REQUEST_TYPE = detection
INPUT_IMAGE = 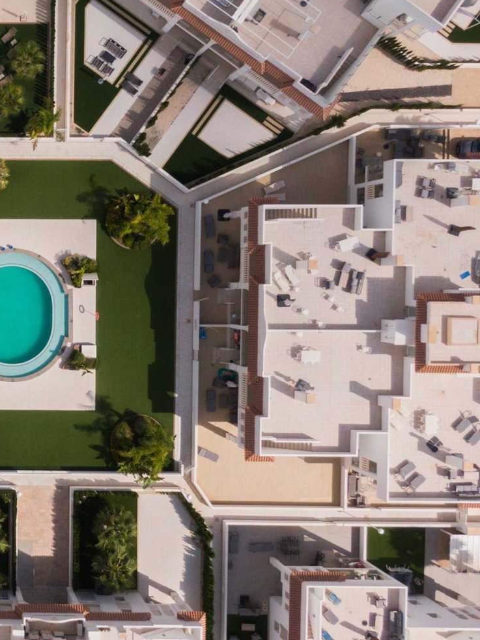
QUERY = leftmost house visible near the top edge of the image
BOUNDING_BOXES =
[129,0,388,134]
